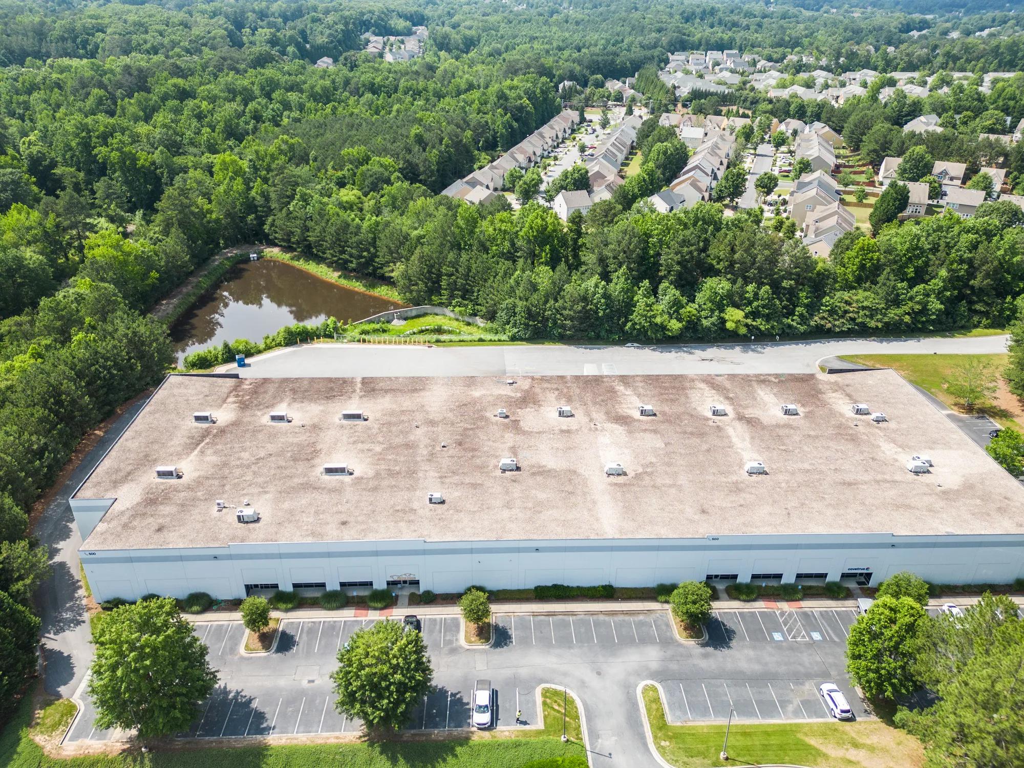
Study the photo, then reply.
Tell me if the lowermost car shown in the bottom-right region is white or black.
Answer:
white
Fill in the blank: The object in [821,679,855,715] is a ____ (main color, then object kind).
white car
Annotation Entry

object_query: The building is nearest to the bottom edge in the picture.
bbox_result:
[67,368,1024,603]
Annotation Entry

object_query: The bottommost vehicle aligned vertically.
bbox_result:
[474,678,493,724]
